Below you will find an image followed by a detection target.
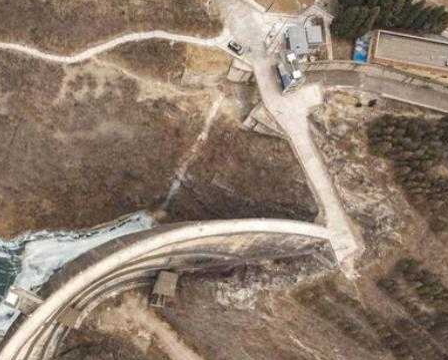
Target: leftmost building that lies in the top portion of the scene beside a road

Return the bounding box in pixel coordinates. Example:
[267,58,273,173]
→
[224,57,252,85]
